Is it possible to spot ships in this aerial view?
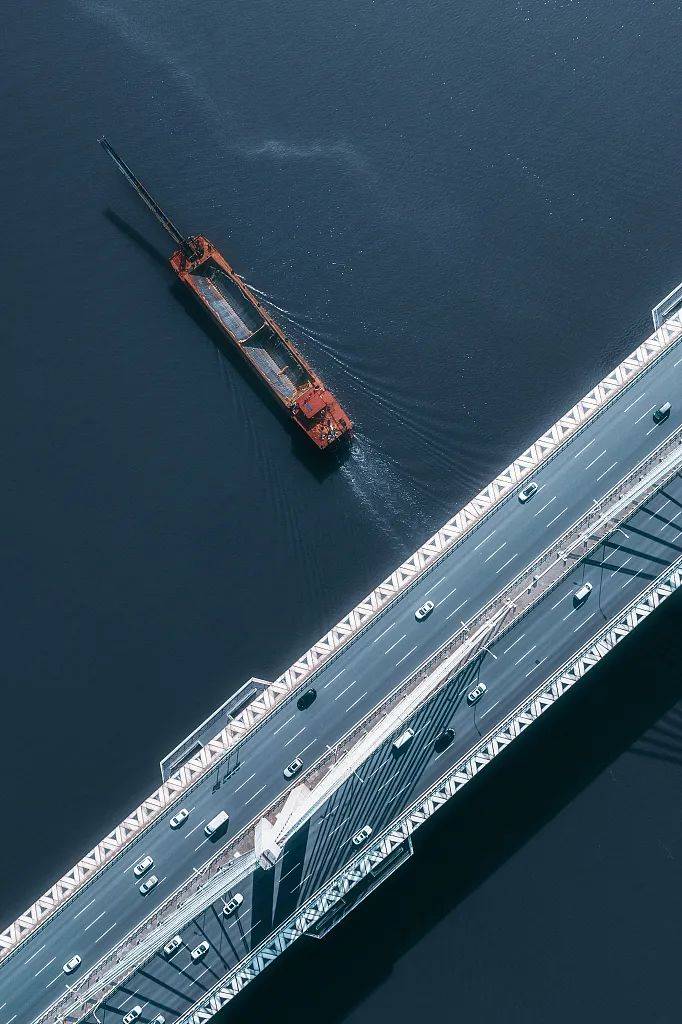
Yes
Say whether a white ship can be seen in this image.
No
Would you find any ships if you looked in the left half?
Yes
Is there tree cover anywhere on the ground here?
No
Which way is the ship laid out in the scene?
diagonally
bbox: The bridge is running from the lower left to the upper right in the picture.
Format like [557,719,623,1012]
[0,281,682,1024]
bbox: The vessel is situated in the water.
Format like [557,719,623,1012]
[96,137,353,449]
